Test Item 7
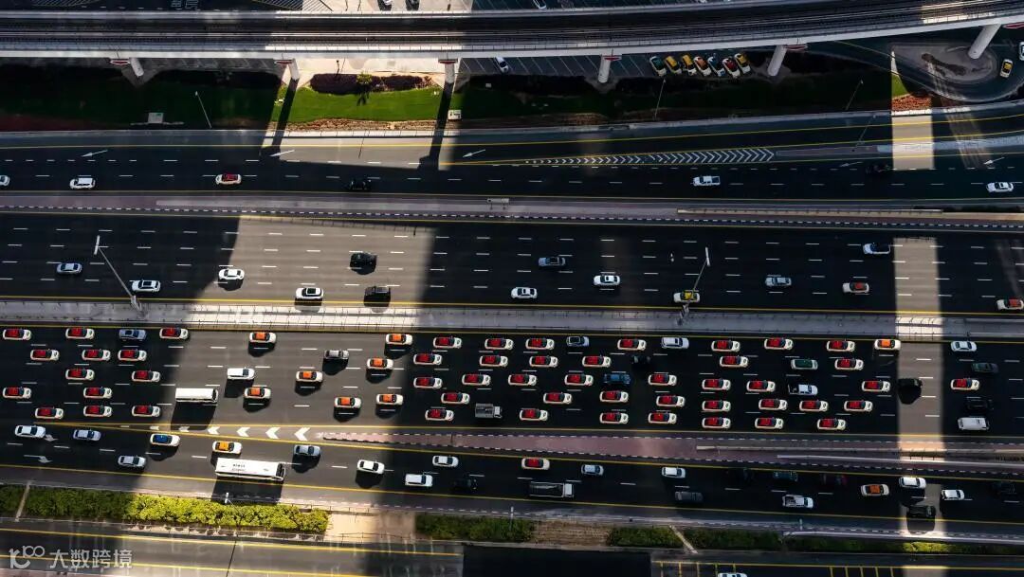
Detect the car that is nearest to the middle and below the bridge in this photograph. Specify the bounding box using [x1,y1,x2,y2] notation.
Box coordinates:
[511,287,537,299]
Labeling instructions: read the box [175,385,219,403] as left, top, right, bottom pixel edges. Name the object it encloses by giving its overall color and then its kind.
white vehicle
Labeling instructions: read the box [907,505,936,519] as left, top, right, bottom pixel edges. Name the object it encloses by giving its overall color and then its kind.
black car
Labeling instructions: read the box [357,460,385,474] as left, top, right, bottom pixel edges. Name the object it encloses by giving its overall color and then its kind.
white car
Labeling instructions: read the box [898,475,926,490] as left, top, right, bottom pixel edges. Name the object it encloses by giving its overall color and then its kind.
white car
